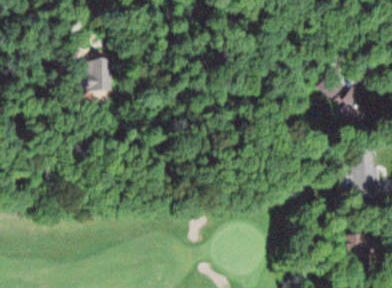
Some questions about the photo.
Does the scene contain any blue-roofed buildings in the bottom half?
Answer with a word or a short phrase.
No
